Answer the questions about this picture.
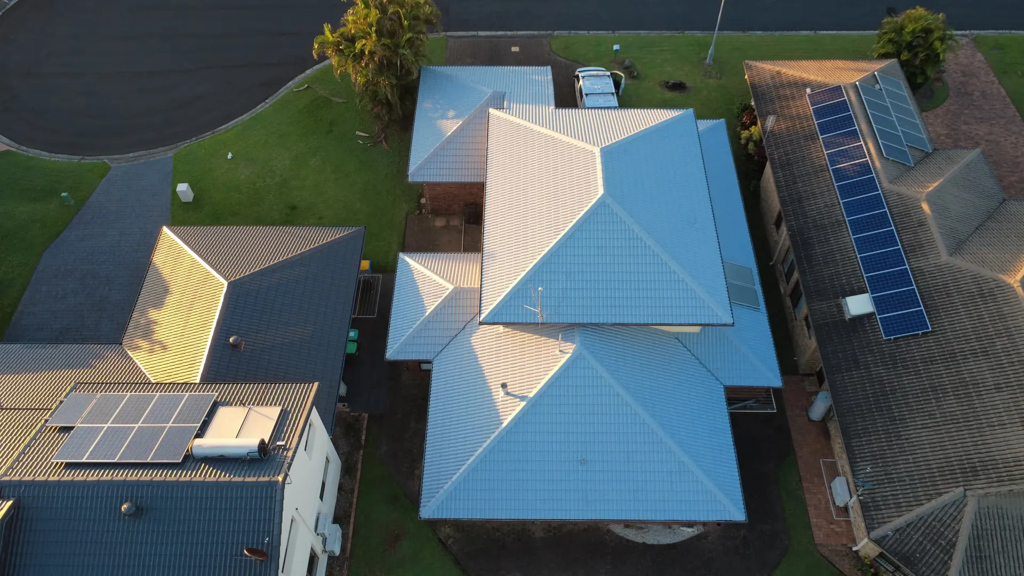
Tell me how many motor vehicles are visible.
1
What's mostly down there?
buildings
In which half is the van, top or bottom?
top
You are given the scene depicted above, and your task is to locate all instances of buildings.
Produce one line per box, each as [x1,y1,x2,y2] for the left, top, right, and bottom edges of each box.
[742,58,1024,576]
[383,64,786,531]
[0,224,369,576]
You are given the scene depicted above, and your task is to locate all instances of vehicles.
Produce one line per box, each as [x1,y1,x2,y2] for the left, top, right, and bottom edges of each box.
[573,67,623,107]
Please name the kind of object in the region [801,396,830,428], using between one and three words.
water tank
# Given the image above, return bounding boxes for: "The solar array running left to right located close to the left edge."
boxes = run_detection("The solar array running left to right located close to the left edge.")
[36,392,224,461]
